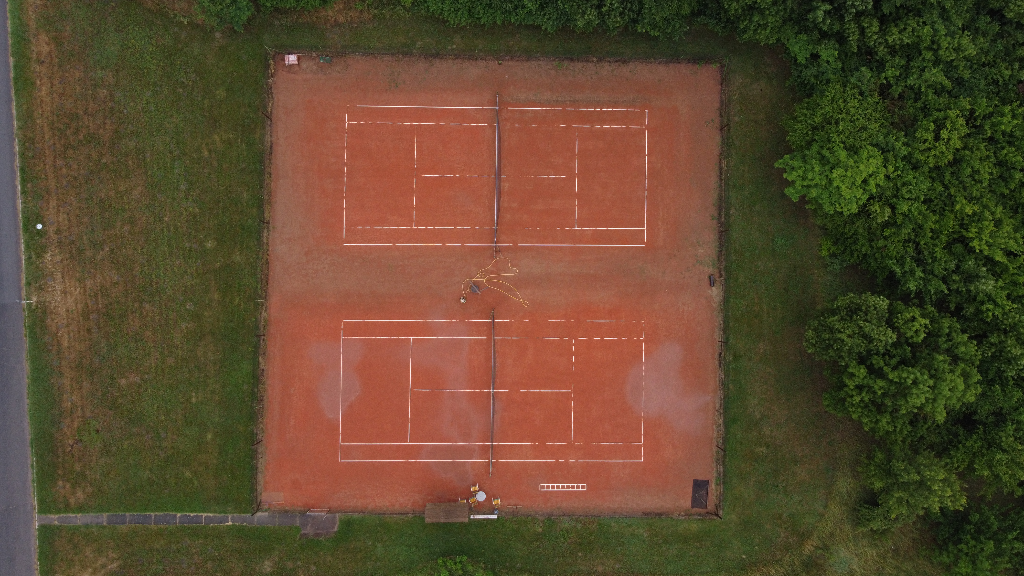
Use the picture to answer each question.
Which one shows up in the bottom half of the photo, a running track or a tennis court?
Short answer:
tennis court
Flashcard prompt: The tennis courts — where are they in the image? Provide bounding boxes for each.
[261,281,719,512]
[267,56,722,287]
